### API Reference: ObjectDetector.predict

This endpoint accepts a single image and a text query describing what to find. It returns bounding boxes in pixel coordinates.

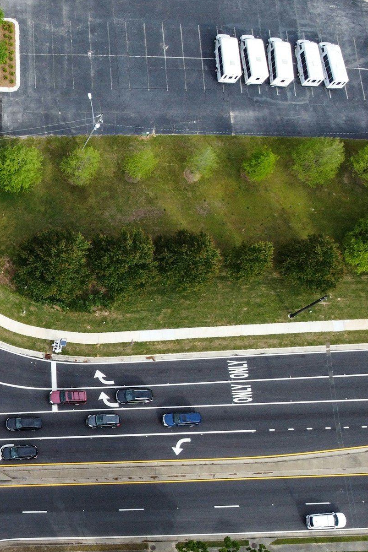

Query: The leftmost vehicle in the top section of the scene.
[214,36,242,84]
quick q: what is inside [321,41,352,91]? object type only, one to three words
vehicle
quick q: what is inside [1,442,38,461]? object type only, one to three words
car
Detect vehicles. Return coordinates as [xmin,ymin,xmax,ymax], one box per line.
[304,511,347,530]
[1,442,38,461]
[214,36,242,84]
[266,39,295,87]
[86,410,121,428]
[321,41,352,91]
[115,387,154,405]
[162,409,202,428]
[49,388,87,406]
[294,39,327,88]
[240,37,270,85]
